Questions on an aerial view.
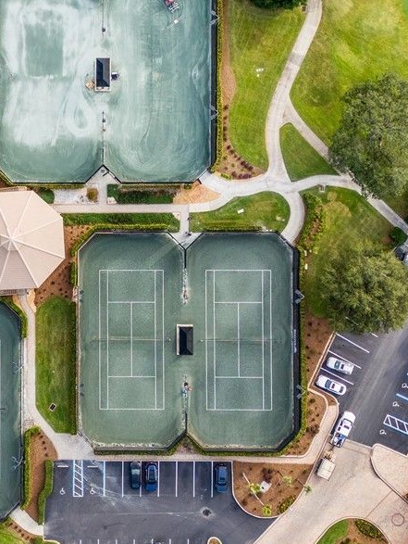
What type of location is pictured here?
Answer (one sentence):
What you see here is a sports ground.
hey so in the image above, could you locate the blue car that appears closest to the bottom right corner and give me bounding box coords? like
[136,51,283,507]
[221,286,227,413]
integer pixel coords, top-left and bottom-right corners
[216,464,229,493]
